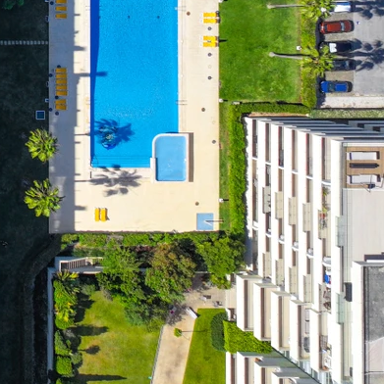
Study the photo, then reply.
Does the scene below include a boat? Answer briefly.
No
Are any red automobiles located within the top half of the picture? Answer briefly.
Yes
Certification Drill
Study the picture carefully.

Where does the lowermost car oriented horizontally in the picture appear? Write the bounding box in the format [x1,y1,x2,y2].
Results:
[317,78,351,94]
